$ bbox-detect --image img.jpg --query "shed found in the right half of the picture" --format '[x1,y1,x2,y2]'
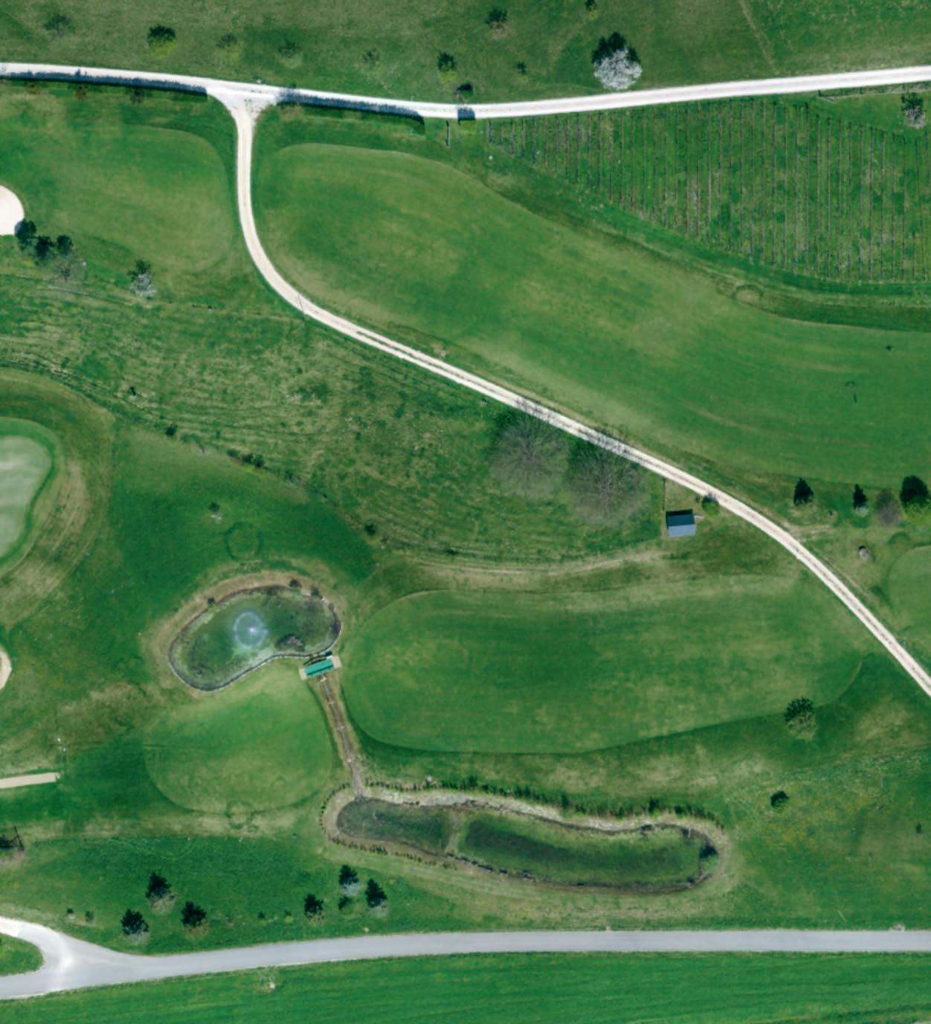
[668,515,696,537]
